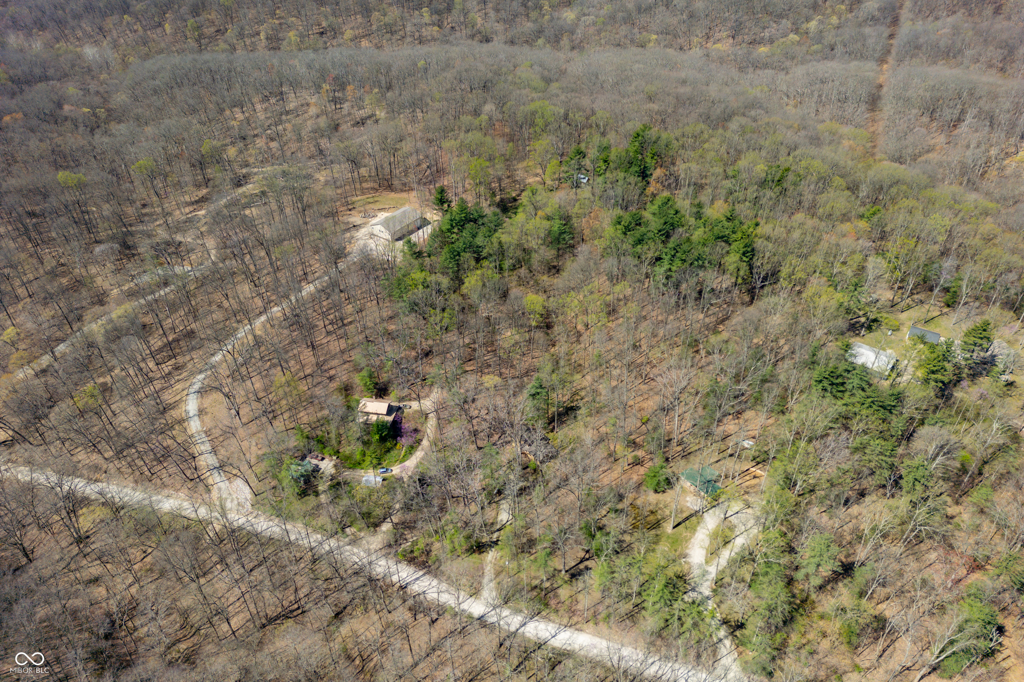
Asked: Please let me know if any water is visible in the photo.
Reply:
No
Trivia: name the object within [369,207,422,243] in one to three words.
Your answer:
barn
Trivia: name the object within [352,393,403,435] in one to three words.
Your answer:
house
